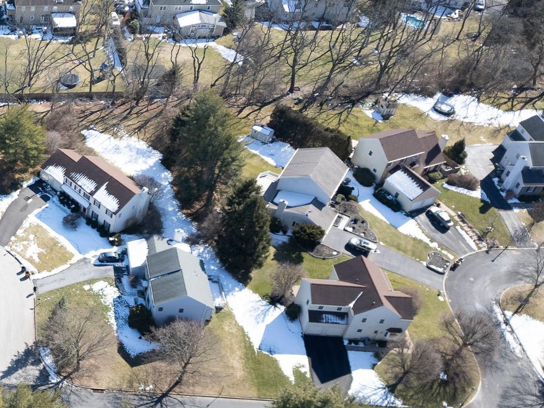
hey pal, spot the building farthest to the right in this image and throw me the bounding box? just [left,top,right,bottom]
[476,110,544,195]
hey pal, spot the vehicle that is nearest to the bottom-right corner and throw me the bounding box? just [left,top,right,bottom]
[429,206,453,229]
